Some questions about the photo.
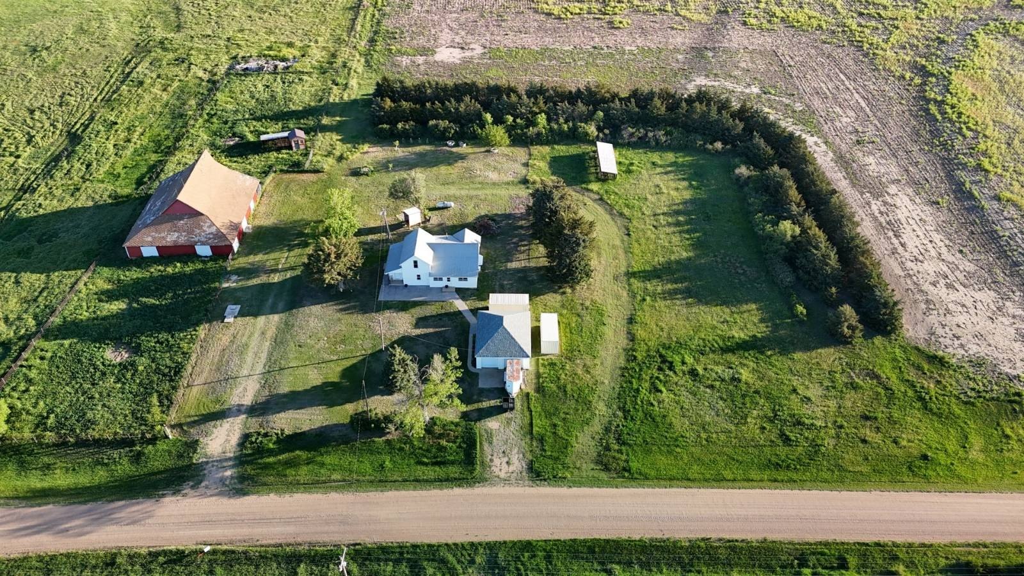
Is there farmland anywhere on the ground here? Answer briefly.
Yes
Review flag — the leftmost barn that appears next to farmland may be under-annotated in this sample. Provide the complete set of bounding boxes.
[122,151,264,256]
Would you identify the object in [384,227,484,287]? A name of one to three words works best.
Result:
house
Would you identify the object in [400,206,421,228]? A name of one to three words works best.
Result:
shed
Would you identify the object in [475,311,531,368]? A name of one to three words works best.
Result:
building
